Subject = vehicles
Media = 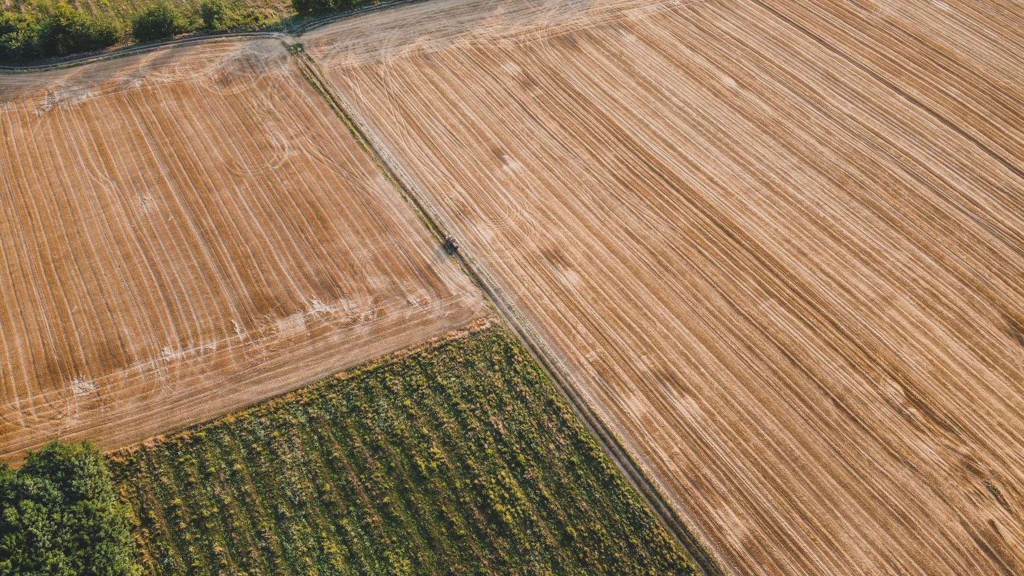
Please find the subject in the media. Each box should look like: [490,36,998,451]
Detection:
[443,235,457,251]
